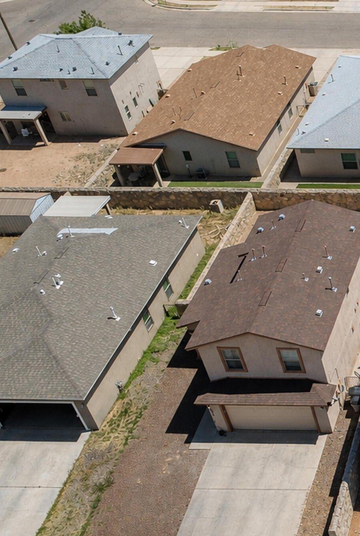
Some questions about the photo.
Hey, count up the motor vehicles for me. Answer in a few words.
zero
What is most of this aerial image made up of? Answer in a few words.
buildings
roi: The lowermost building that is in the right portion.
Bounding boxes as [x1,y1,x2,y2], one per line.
[178,199,360,433]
